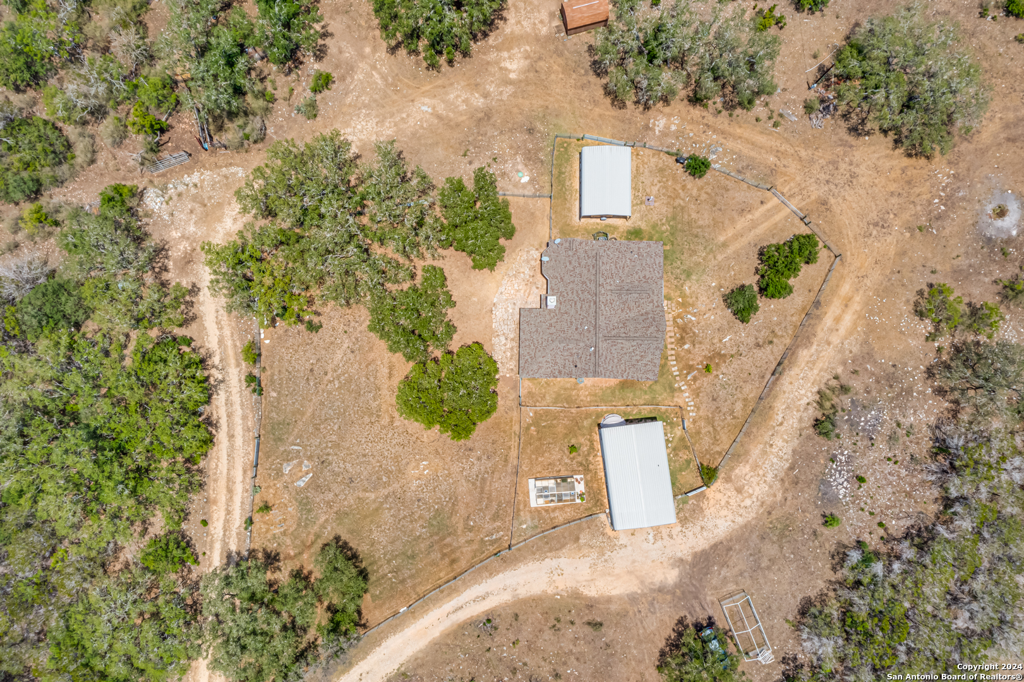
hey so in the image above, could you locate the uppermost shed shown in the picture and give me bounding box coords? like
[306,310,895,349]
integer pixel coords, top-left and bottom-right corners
[560,0,609,36]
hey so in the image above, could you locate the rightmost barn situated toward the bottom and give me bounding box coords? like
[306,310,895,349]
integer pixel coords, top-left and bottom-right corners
[597,418,676,531]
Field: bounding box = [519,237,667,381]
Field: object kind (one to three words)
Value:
house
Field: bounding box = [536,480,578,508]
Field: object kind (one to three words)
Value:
greenhouse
